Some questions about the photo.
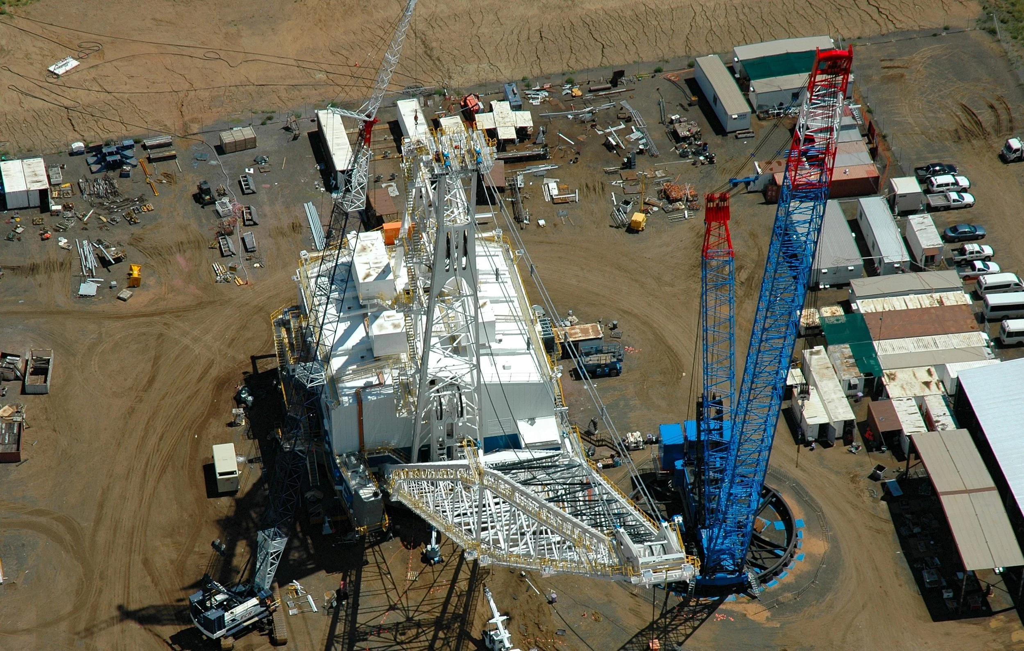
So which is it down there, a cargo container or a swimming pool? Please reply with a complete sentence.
Of the two, only a cargo container appears.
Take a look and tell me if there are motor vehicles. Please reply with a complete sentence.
Yes, there's a motor vehicle down there.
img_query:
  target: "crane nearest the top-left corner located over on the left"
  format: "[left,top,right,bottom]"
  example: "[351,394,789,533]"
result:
[185,0,420,648]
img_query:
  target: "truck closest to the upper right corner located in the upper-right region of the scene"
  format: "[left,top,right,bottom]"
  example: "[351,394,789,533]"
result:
[1002,136,1024,161]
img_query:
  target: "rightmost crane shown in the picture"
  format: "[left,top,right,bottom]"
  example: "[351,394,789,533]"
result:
[621,46,861,620]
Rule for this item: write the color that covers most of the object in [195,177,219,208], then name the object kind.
black work vehicle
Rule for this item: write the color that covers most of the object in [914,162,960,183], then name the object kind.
black car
